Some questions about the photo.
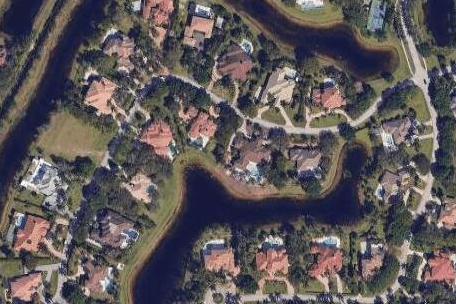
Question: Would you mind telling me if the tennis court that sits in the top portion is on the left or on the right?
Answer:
right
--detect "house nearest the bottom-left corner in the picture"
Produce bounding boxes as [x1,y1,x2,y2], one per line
[10,271,44,303]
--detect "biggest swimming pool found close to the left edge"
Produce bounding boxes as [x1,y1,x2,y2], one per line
[22,155,64,197]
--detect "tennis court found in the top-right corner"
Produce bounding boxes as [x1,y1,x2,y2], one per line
[367,0,387,36]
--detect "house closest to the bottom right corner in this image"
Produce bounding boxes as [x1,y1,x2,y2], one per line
[425,249,456,287]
